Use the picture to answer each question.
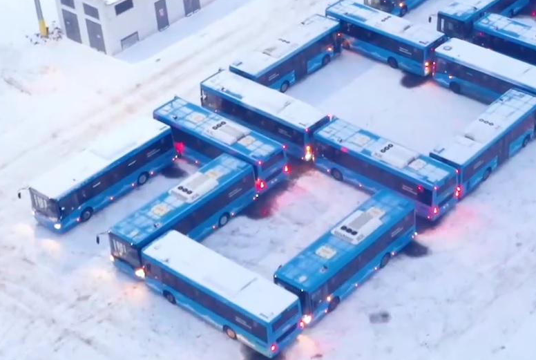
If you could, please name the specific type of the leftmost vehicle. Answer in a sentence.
It looks like the leftmost vehicle is a bus.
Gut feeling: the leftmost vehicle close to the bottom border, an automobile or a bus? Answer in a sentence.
It turns out the leftmost vehicle close to the bottom border is a bus.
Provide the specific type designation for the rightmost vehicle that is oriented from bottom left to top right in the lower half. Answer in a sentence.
Specifically, the rightmost vehicle that is oriented from bottom left to top right in the lower half is a bus.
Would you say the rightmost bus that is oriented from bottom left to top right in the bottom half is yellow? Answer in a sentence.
No, the rightmost bus that is oriented from bottom left to top right in the bottom half is actually blue.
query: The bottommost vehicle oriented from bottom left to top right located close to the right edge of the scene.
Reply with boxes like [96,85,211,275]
[430,88,536,194]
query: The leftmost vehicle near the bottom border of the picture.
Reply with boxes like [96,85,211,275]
[132,227,300,352]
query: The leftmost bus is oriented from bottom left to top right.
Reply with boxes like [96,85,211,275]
[21,120,173,228]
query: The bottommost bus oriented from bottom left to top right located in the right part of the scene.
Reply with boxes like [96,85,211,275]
[265,192,414,321]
